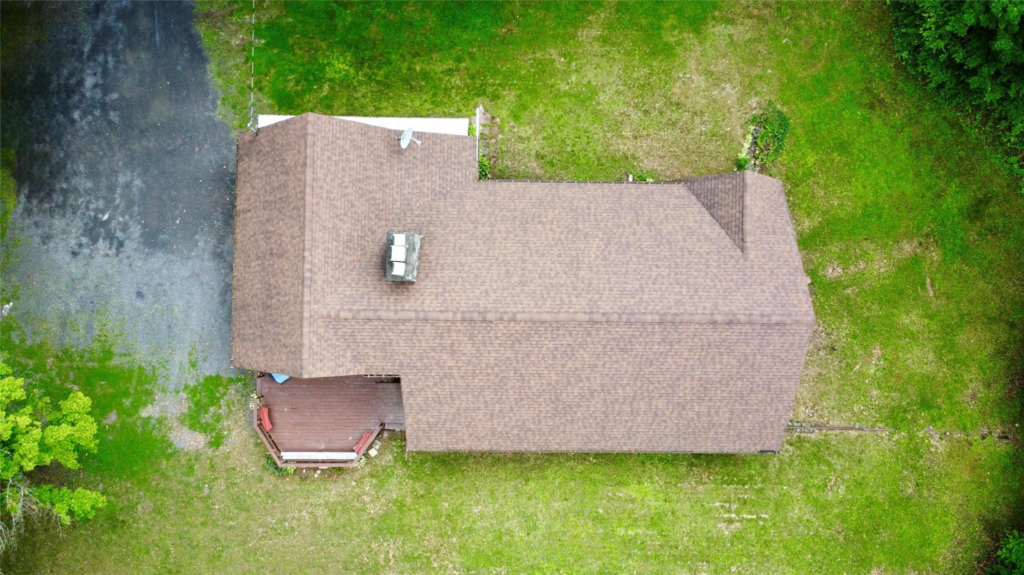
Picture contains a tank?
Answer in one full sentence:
No, there appears to be no tank in this shot.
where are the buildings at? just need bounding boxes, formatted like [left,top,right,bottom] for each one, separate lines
[230,105,815,458]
